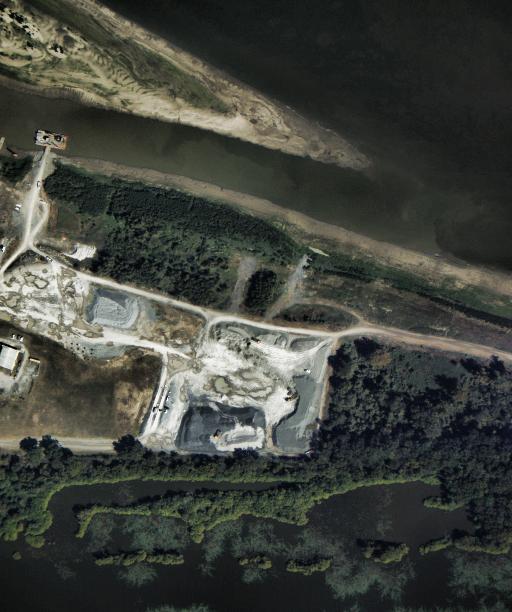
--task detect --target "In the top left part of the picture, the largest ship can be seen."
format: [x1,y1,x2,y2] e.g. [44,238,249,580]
[35,131,68,149]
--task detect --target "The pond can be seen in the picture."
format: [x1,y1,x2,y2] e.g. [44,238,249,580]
[0,478,512,612]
